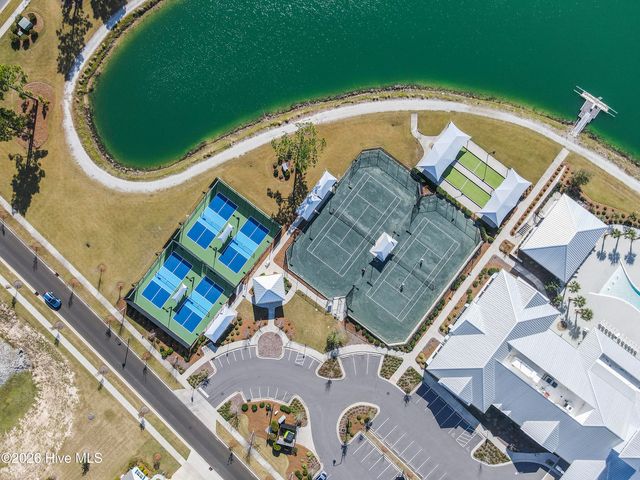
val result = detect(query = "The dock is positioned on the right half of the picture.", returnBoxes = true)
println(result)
[569,86,618,140]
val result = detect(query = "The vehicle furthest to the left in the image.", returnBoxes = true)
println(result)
[41,292,61,308]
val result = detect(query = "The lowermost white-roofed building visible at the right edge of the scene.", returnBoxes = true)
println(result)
[427,269,640,480]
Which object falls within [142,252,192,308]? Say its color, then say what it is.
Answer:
blue sports court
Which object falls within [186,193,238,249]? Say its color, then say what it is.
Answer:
blue sports court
